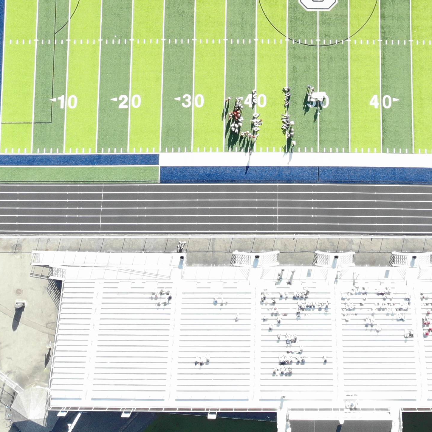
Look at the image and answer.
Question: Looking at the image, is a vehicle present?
No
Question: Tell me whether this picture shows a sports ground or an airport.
sports ground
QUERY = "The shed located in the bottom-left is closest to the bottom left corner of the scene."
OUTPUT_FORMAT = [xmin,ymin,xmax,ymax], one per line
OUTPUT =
[6,382,55,432]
